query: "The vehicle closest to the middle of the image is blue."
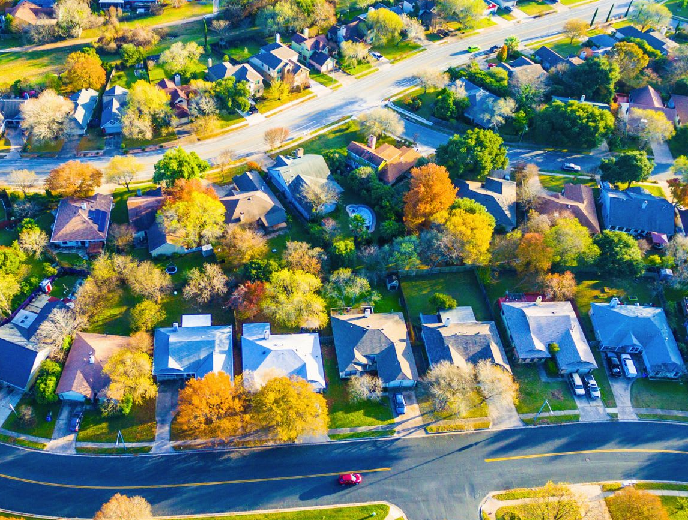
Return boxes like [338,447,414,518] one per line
[394,394,406,412]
